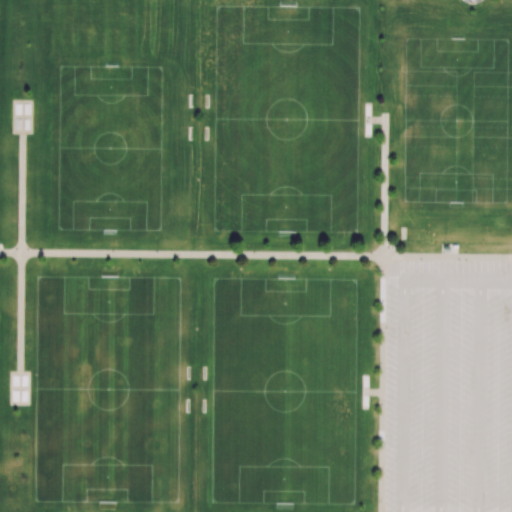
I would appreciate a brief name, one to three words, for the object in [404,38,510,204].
soccer field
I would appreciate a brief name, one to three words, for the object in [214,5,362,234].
soccer field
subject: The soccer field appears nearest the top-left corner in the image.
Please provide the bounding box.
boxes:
[58,65,163,232]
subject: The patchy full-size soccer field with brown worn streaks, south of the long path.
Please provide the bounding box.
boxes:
[35,276,182,504]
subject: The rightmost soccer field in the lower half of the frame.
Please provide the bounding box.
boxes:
[212,277,358,506]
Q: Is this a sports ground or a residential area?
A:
sports ground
